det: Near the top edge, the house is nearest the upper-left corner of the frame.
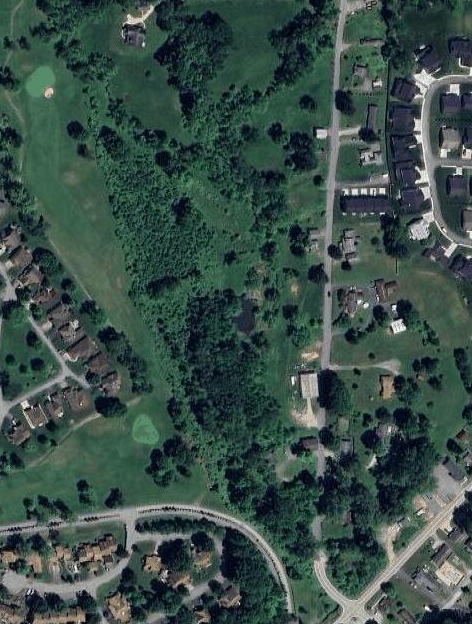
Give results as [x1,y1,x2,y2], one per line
[120,23,145,47]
